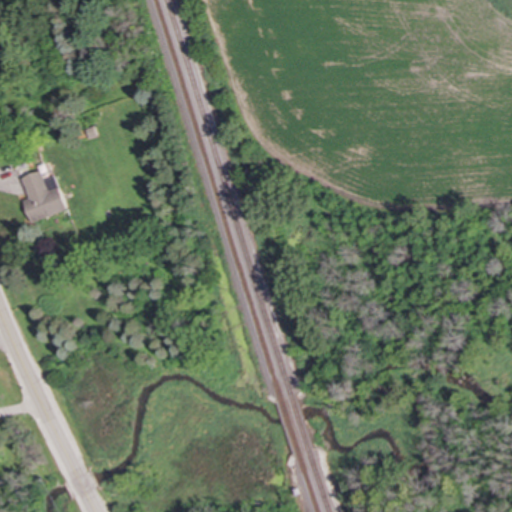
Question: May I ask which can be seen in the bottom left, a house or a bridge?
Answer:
bridge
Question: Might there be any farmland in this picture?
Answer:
Yes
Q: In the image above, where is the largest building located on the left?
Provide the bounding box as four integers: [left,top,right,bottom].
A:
[20,172,66,223]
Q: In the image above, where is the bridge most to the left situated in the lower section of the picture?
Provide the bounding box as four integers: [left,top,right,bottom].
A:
[60,462,98,507]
